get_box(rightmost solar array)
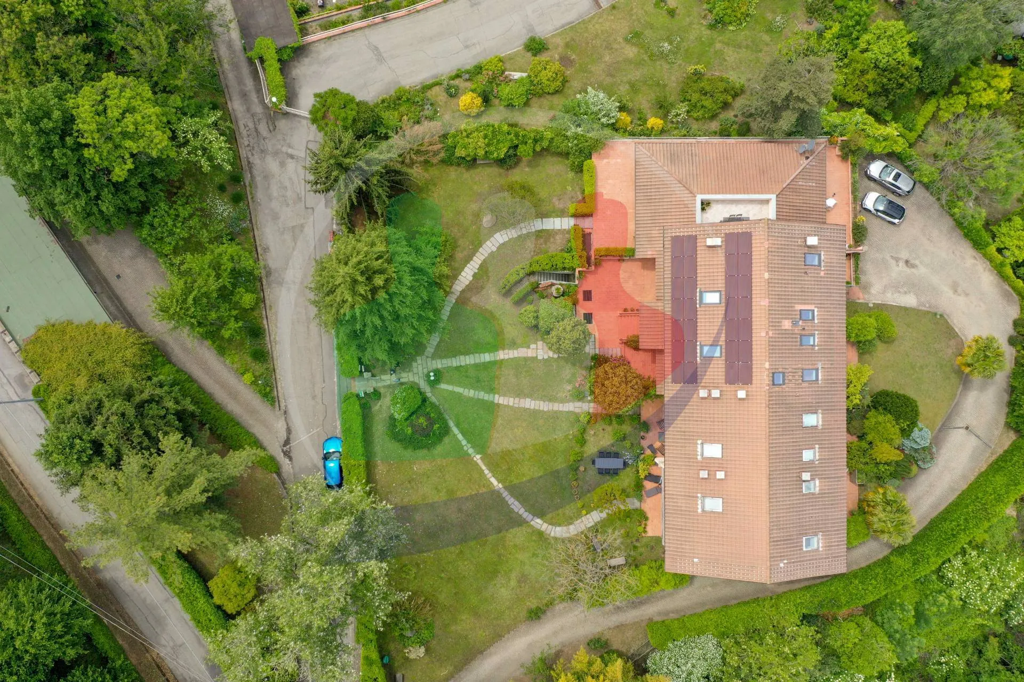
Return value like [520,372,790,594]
[726,231,752,385]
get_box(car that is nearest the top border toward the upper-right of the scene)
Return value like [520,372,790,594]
[860,160,920,197]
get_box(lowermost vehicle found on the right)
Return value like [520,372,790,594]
[857,191,912,226]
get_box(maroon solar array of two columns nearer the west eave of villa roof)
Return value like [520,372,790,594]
[671,234,697,384]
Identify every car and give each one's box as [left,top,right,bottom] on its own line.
[319,436,344,488]
[857,191,912,226]
[860,160,920,197]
